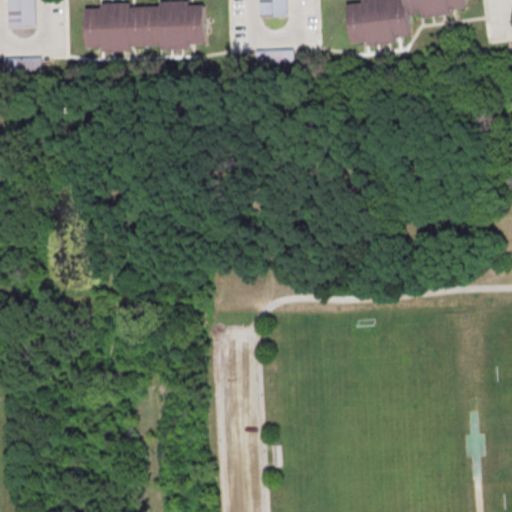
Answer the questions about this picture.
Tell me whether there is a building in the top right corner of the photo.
Yes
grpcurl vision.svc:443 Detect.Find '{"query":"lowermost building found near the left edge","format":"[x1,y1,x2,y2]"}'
[4,56,42,71]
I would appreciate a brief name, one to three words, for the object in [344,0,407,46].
building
